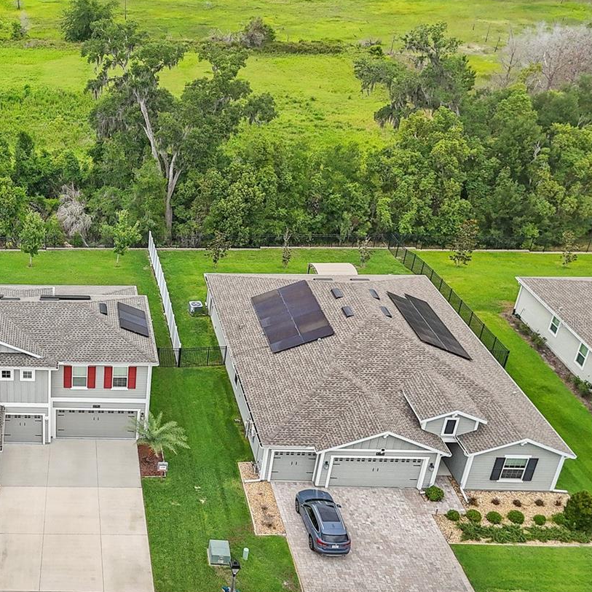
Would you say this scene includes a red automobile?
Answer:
No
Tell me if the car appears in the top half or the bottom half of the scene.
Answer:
bottom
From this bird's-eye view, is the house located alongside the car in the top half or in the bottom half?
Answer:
bottom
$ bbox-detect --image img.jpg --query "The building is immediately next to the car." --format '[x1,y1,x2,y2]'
[202,273,578,501]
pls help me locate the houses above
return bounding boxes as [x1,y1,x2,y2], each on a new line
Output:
[0,282,159,462]
[510,277,592,386]
[202,273,578,501]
